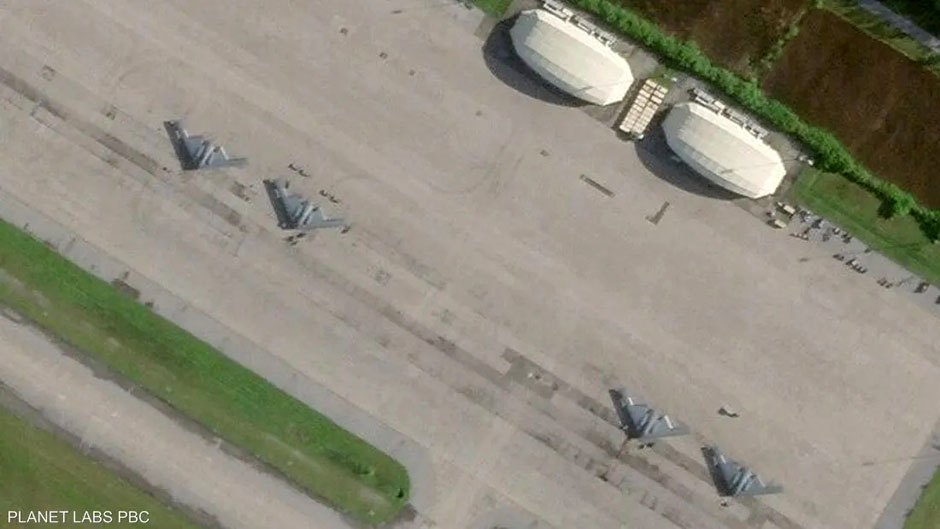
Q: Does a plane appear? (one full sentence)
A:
Yes, I can see a plane in this picture.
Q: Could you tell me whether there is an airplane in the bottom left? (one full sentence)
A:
No, no airplane is visible in the bottom left.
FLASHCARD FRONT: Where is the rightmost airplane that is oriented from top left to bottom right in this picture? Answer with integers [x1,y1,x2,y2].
[711,449,783,496]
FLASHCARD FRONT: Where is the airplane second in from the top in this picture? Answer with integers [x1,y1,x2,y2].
[271,182,344,229]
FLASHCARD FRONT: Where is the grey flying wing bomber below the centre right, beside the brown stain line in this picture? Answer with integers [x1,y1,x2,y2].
[619,391,691,438]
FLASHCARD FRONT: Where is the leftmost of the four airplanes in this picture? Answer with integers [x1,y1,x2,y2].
[173,121,247,168]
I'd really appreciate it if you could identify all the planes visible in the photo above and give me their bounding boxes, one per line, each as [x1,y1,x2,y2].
[619,391,691,438]
[271,182,344,229]
[711,449,783,496]
[173,121,247,168]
